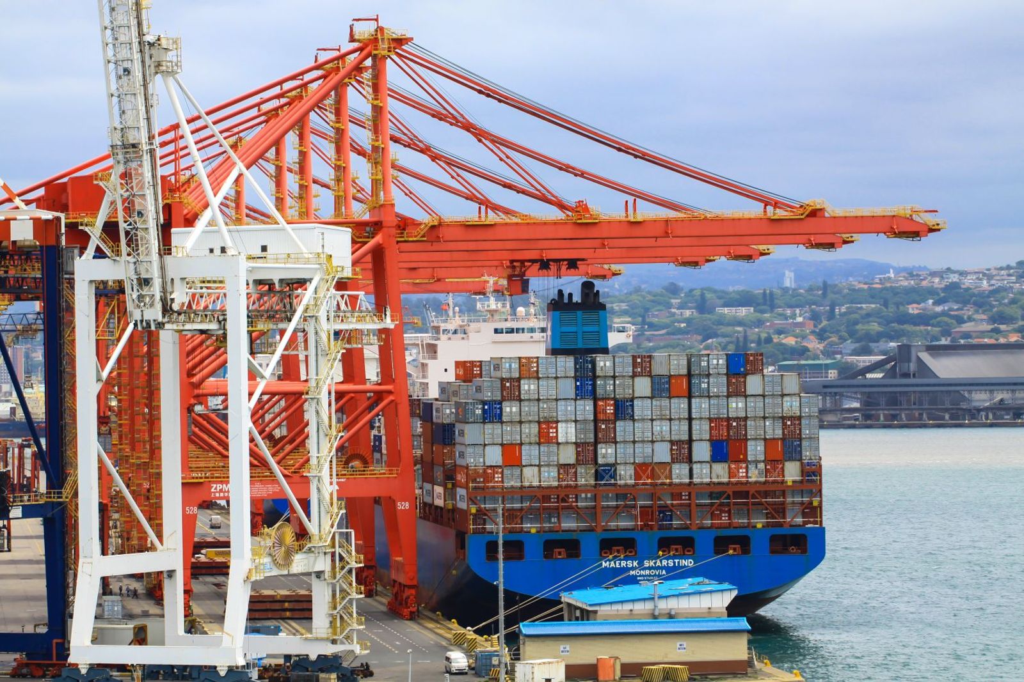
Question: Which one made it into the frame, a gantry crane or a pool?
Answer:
gantry crane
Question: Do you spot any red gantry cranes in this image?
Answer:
Yes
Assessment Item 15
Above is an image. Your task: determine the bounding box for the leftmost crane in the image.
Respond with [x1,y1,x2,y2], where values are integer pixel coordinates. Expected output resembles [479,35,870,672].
[0,176,126,671]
